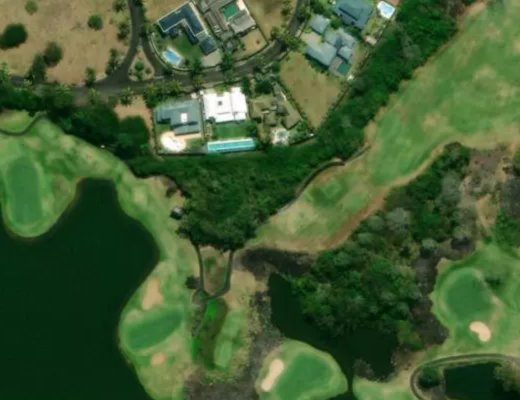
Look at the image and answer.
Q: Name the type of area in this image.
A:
golf course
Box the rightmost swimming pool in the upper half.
[378,1,396,19]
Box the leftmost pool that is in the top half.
[162,48,184,66]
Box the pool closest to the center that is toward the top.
[207,138,254,153]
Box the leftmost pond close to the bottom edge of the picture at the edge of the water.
[266,273,397,400]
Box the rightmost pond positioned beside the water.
[444,363,520,400]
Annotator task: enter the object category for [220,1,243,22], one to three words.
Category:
swimming pool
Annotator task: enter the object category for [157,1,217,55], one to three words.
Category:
house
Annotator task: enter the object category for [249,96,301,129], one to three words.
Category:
house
